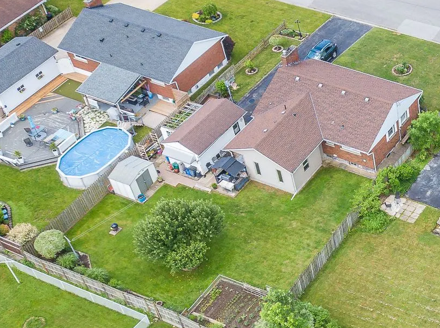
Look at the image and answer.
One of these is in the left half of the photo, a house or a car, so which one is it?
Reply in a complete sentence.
The feature located in the left half of the photo is a house.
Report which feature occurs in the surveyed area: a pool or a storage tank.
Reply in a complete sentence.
I can see a pool in this picture.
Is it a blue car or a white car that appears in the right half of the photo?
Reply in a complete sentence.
You can see a blue car in the right half of the photo.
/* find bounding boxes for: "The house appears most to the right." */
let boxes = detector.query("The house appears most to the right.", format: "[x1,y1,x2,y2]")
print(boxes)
[222,51,425,199]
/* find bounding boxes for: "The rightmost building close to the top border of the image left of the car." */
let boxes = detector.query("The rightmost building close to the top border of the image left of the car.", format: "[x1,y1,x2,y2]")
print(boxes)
[56,0,236,121]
